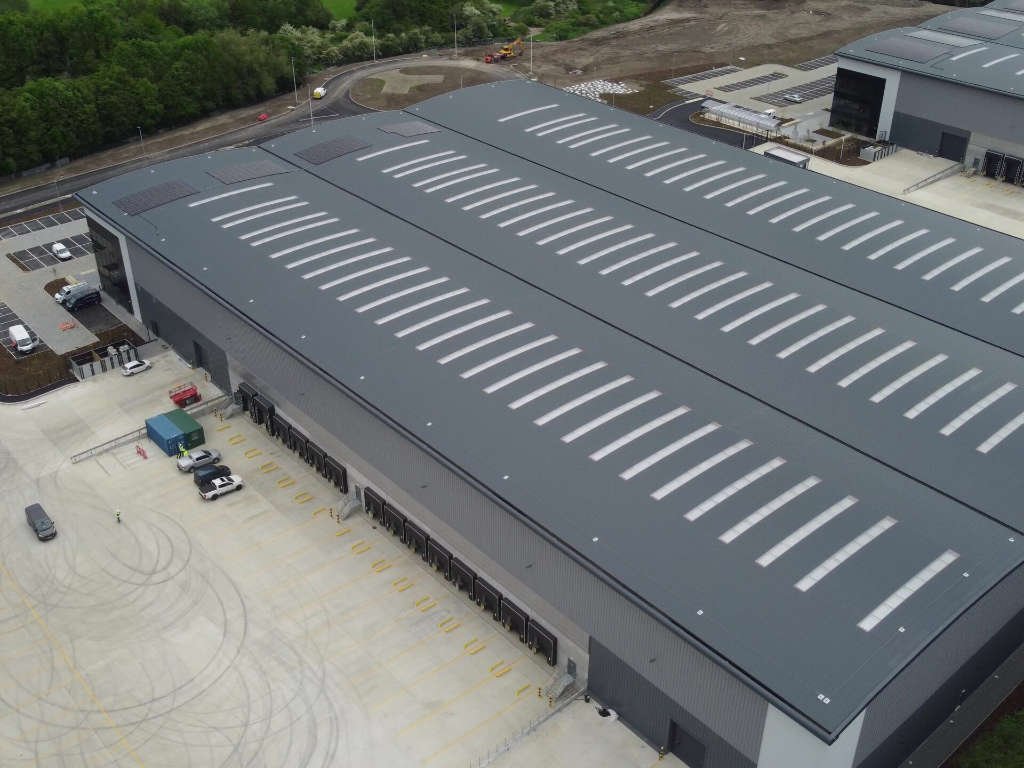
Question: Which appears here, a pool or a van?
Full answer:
The image shows a van.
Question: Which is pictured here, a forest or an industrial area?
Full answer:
The area seen from above is an industrial area.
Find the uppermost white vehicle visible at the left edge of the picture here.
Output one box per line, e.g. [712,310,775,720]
[51,239,72,257]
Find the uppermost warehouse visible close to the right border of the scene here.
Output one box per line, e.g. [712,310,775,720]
[827,0,1024,187]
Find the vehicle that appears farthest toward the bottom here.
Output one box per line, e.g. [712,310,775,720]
[25,503,56,542]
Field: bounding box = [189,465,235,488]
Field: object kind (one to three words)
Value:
truck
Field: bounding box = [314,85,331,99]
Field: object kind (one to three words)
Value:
vehicle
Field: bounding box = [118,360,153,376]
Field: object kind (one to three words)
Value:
car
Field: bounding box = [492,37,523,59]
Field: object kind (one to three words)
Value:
work vehicle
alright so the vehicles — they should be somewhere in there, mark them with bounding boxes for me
[766,107,777,120]
[63,284,101,307]
[189,465,235,488]
[51,239,72,257]
[175,449,221,471]
[9,324,41,354]
[783,92,803,102]
[314,85,331,99]
[198,477,245,501]
[25,503,56,542]
[492,37,523,59]
[118,360,153,376]
[53,276,93,301]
